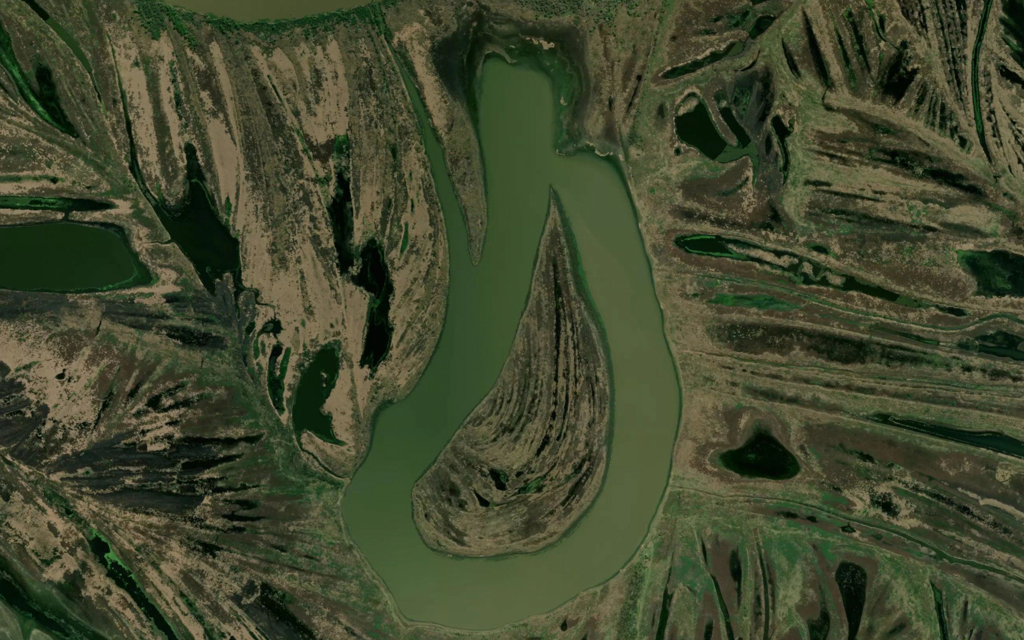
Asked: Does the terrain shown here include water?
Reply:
Yes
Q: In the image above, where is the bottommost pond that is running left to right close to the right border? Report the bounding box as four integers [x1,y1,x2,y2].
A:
[867,414,1024,459]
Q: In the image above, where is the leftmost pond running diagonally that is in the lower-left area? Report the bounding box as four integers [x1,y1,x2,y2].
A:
[90,536,179,640]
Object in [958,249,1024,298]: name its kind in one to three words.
pond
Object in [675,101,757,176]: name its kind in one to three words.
pond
